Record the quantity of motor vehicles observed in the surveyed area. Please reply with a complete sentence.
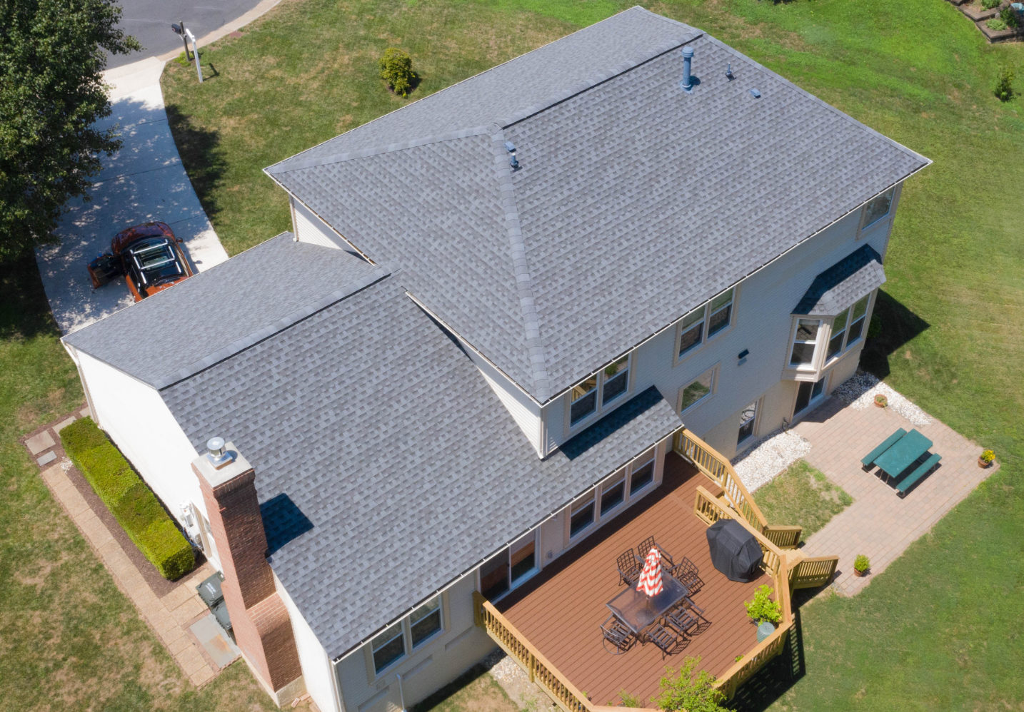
I count 1 motor vehicle.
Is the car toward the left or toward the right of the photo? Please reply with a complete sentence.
The car appears in the left half of the scene.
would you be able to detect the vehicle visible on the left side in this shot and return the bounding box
[81,224,195,304]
